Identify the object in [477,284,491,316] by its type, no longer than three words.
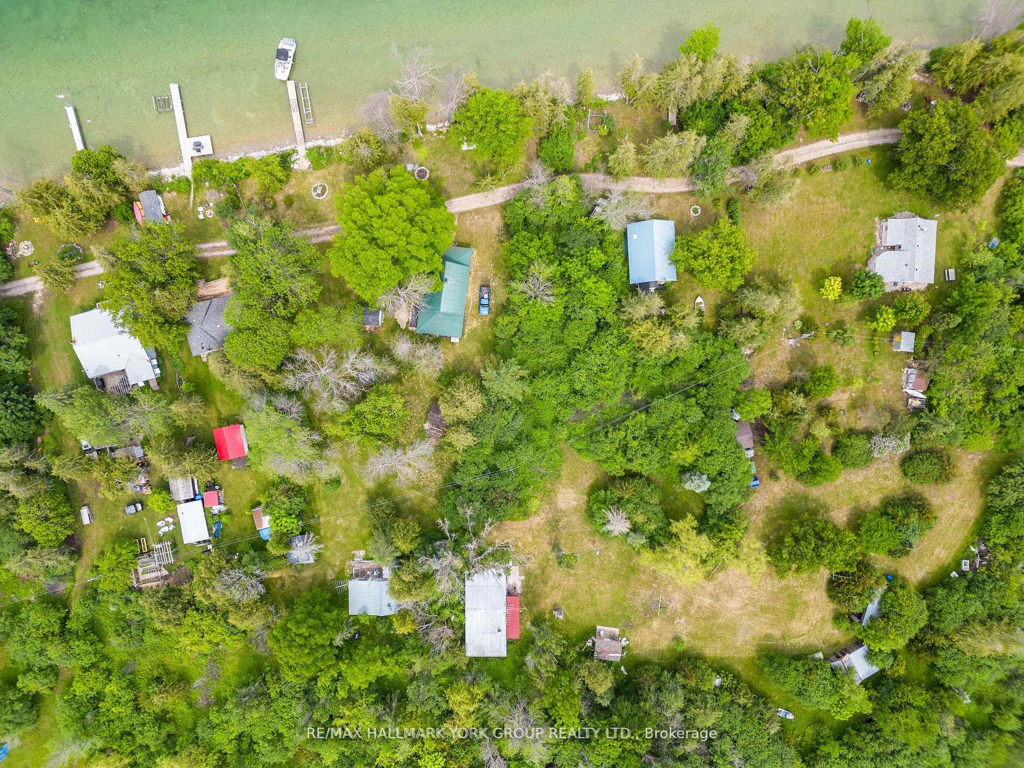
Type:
vehicle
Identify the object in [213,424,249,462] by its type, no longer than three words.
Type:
shed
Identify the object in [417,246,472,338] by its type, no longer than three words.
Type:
house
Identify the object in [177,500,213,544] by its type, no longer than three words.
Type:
building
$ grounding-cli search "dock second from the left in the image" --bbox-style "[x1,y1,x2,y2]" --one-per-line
[169,83,213,178]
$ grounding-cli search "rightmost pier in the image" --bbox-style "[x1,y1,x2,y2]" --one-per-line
[287,80,306,154]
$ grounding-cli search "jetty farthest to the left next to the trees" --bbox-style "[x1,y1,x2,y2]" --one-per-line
[66,106,85,155]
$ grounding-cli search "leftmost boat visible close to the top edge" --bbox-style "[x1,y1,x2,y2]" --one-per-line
[276,35,296,80]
